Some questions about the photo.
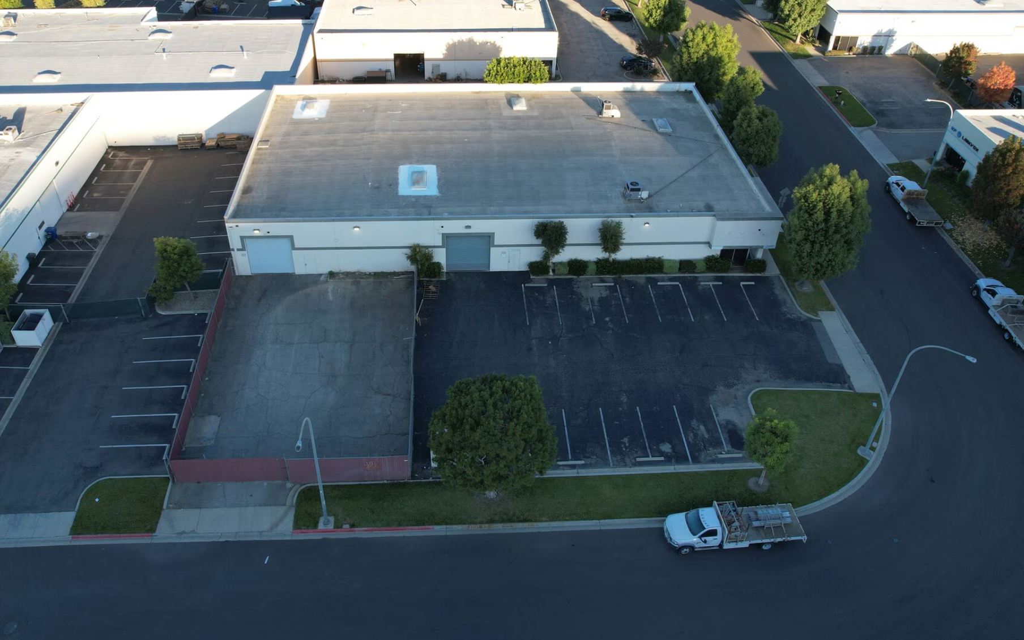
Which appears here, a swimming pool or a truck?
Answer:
truck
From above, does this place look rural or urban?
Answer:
urban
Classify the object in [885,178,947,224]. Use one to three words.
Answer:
truck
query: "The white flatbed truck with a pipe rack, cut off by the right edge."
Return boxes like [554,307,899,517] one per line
[973,281,1024,340]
